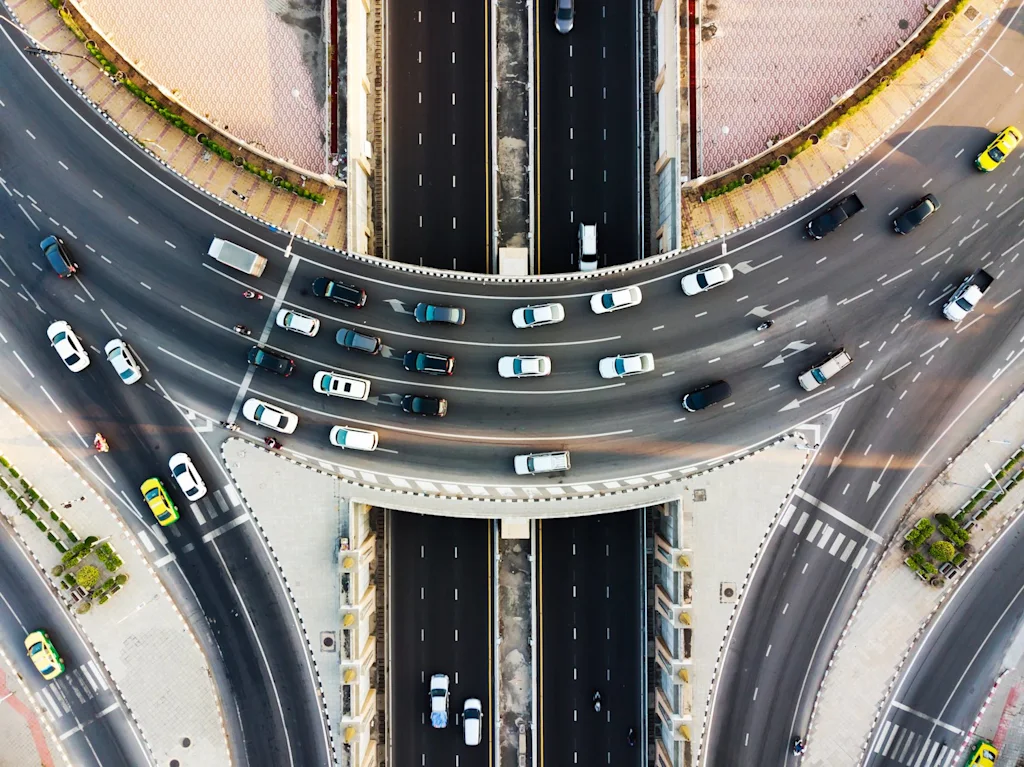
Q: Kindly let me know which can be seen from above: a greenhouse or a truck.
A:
truck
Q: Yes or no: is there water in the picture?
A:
No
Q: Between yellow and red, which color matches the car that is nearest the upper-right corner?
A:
yellow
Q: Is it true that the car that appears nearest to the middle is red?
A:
No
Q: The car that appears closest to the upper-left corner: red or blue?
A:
blue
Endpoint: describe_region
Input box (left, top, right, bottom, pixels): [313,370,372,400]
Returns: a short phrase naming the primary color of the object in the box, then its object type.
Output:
white van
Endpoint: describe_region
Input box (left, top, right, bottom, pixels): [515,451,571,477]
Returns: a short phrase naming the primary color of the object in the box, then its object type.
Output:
white truck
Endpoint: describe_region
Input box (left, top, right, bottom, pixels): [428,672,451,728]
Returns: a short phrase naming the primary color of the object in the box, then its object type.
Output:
white truck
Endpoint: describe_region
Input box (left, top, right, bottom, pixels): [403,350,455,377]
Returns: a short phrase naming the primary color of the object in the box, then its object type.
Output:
black car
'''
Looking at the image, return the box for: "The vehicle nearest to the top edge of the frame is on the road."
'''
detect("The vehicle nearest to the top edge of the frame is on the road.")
[554,0,577,34]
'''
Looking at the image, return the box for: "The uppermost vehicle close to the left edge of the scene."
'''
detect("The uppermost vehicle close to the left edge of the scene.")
[40,234,80,280]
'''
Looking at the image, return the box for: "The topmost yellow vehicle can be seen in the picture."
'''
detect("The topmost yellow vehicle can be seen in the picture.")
[969,123,1024,171]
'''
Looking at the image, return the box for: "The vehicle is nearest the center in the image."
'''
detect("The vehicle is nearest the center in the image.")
[499,354,550,379]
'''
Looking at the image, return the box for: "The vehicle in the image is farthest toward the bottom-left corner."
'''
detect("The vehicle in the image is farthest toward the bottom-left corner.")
[24,629,71,681]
